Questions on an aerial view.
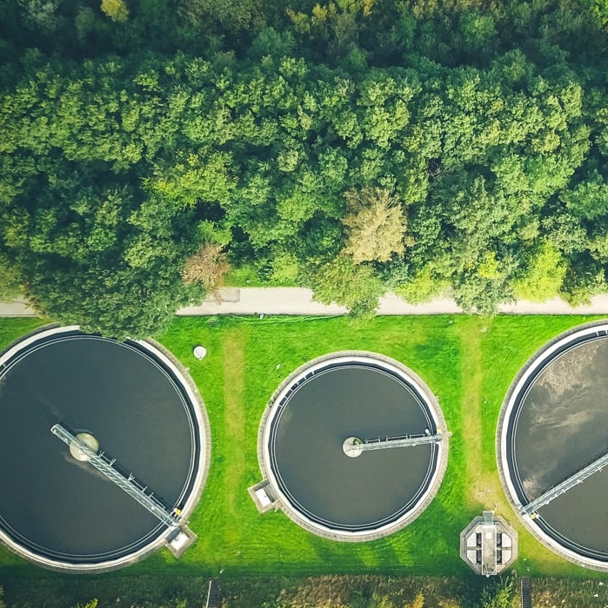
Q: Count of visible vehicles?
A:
0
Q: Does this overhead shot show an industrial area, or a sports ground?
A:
industrial area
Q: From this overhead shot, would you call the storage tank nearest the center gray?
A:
Yes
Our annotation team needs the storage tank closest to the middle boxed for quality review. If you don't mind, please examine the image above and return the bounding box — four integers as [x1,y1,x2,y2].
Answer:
[248,351,449,542]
